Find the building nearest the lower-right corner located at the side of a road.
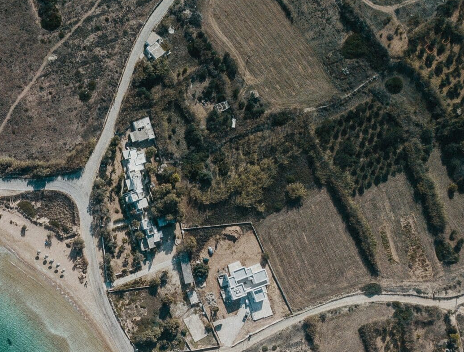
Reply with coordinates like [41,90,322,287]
[217,261,273,321]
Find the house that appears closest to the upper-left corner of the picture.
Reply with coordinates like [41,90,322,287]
[145,31,170,62]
